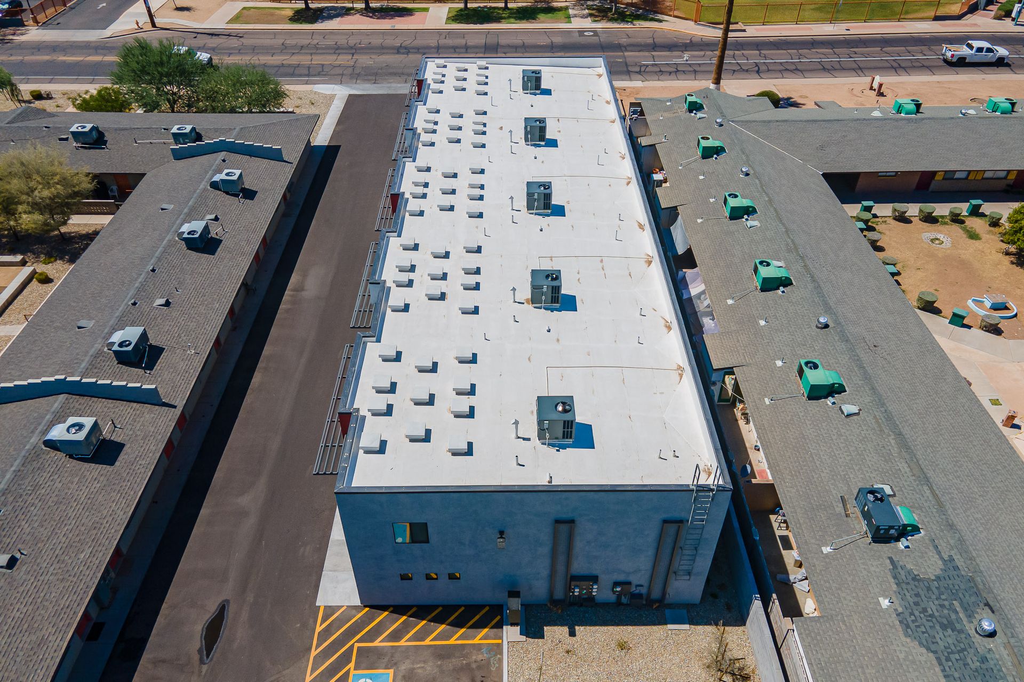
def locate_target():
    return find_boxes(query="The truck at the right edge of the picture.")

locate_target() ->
[930,33,1013,62]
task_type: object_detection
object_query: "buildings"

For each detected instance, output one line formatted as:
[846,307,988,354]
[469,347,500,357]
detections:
[638,83,1024,682]
[334,55,732,609]
[0,105,320,682]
